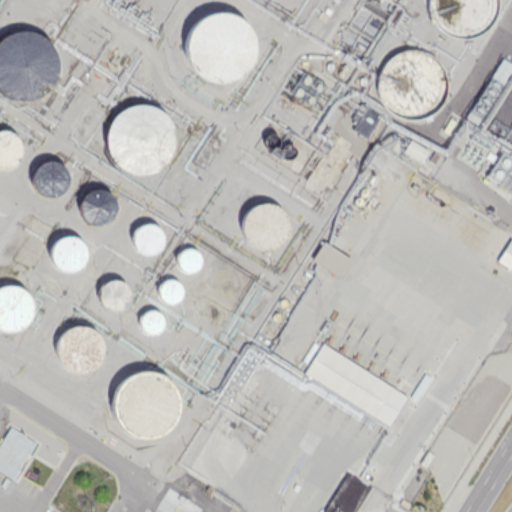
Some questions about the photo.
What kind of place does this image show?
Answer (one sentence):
The area seen from above is an industrial area.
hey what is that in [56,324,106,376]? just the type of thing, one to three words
storage tank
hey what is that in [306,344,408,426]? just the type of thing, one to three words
building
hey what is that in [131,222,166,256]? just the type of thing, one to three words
storage tank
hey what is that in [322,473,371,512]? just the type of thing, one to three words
shed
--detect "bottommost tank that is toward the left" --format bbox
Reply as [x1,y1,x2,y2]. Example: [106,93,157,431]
[111,370,182,441]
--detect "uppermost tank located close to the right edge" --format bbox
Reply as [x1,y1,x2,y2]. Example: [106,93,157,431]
[424,0,500,40]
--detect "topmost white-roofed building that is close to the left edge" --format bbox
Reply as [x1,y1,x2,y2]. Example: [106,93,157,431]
[0,427,38,484]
